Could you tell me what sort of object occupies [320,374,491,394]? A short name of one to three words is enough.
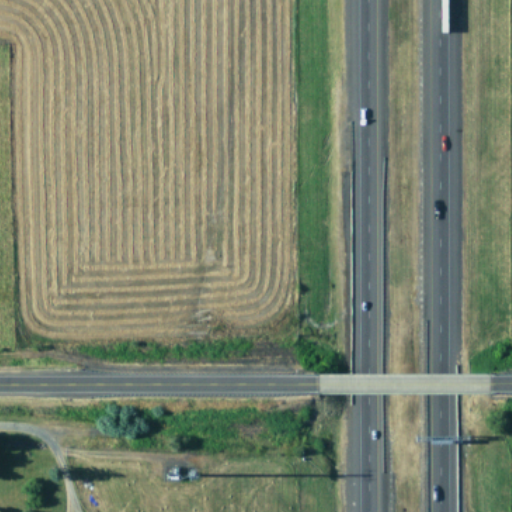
bridge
